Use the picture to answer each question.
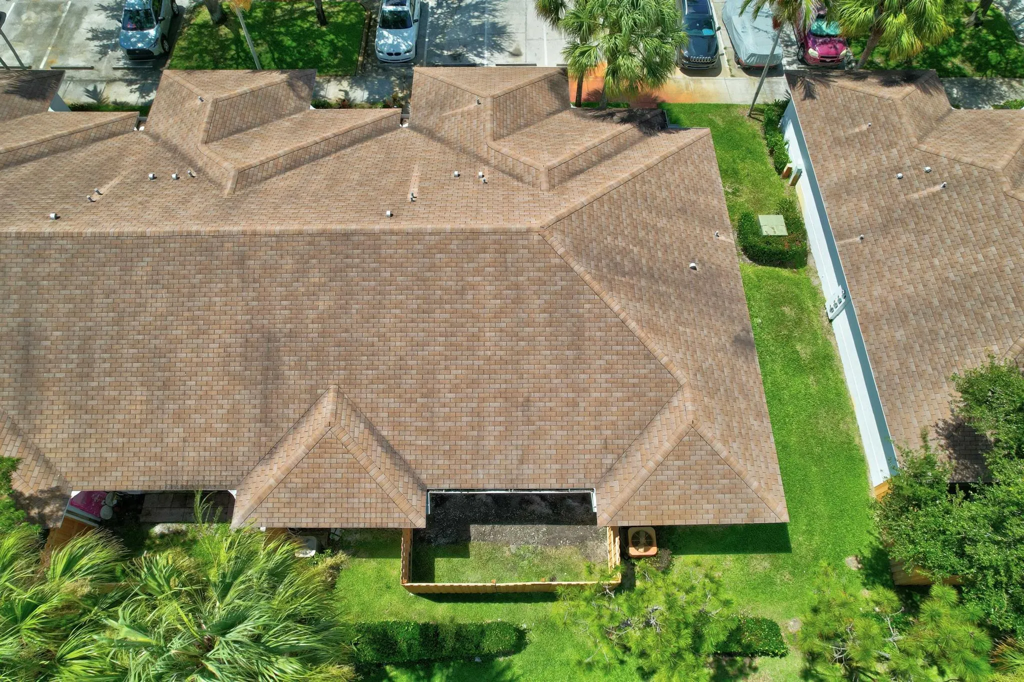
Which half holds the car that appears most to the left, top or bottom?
top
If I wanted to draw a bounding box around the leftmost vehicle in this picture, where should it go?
[118,0,188,58]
